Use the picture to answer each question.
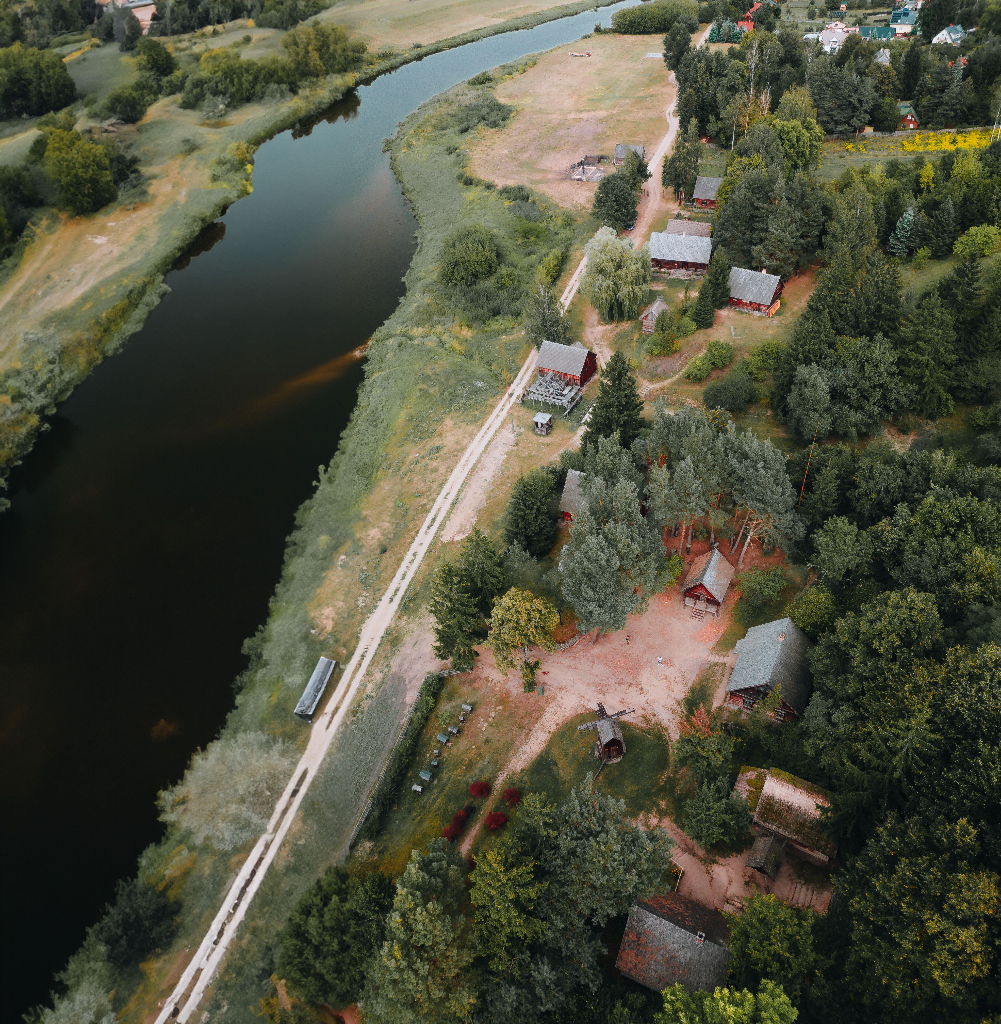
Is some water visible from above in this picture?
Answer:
Yes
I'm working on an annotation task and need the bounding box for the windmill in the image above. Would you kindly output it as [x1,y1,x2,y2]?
[576,701,634,787]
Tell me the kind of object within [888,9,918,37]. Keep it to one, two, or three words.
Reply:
house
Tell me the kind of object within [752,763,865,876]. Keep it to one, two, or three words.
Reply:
barn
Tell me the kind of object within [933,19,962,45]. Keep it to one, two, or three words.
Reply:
house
